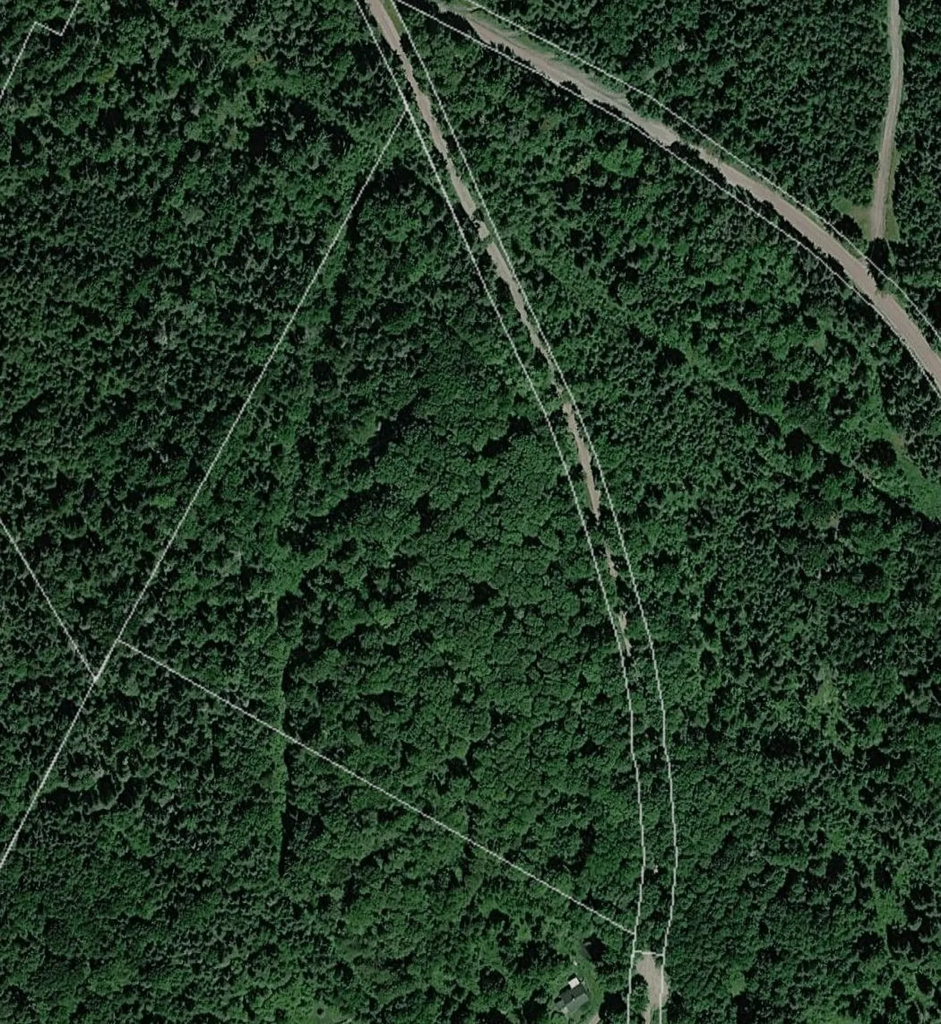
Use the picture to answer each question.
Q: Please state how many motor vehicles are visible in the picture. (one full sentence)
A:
I count no motor vehicles.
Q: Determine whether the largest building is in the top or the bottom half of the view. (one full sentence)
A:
The bottom half of the photo is where the largest building is.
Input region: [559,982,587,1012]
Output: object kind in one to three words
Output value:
building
